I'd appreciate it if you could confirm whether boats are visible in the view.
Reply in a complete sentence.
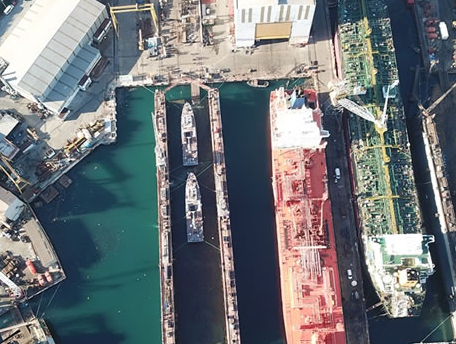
Yes, you can see a boat in this photo.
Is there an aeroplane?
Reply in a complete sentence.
No, the scene contains no aeroplane.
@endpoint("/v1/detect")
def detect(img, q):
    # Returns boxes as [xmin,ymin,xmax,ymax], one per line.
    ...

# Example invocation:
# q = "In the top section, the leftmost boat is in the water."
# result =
[180,102,198,169]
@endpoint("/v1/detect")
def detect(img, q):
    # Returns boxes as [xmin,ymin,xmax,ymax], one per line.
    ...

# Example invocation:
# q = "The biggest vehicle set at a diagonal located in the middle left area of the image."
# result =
[40,146,58,160]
